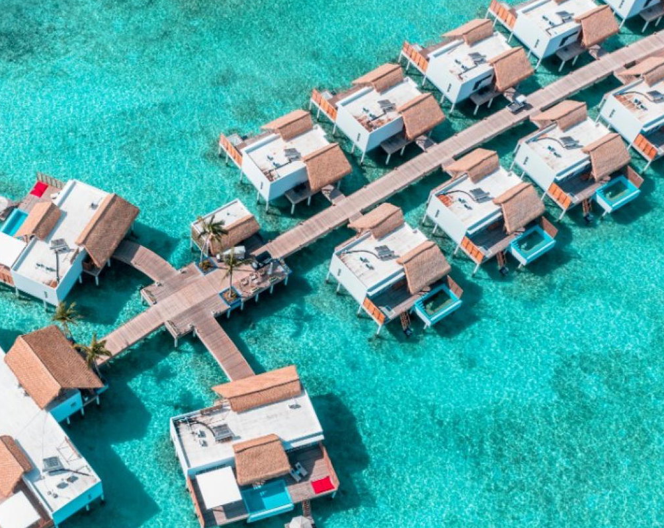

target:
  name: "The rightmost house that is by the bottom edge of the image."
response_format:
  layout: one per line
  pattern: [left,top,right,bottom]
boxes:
[170,367,341,528]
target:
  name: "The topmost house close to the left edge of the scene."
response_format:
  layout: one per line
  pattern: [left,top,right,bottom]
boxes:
[0,171,138,310]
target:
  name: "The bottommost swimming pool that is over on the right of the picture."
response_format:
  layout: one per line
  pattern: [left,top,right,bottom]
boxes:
[414,283,464,327]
